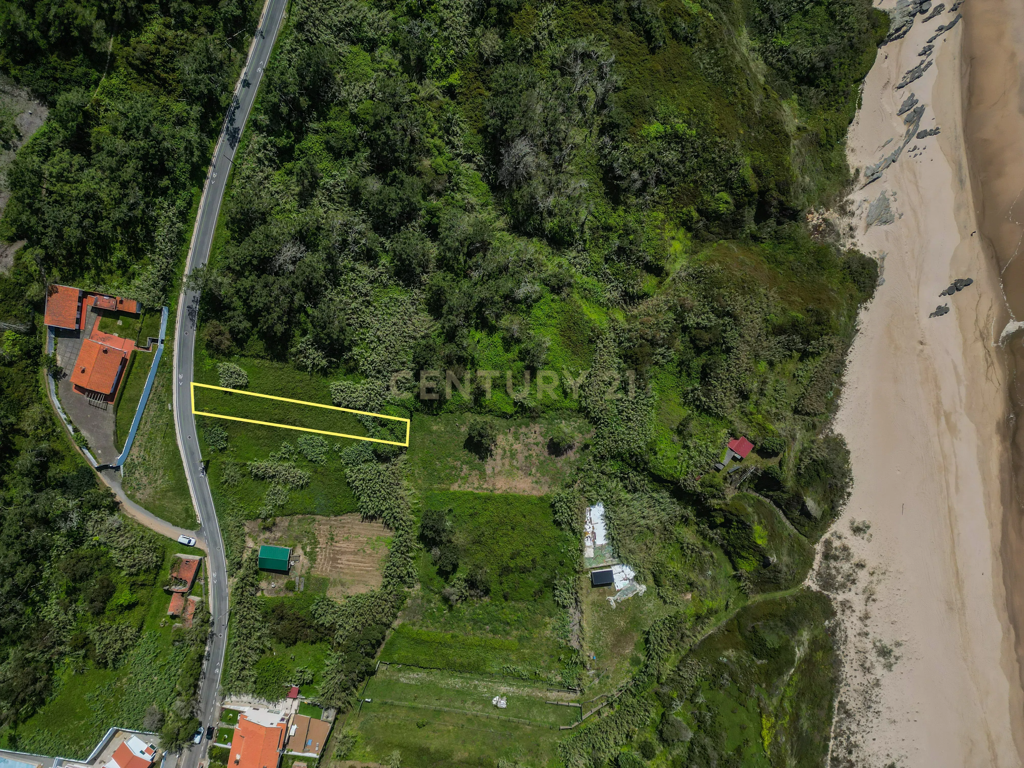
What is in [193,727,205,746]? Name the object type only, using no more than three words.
vehicle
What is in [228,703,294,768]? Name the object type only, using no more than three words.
house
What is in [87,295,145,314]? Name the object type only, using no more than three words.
building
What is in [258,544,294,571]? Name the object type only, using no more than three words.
shed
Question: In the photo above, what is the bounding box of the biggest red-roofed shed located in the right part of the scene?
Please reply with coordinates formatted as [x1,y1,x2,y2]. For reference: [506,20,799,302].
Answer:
[728,436,754,458]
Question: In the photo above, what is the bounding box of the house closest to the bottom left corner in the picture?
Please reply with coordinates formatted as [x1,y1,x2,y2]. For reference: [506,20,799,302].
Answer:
[103,733,161,768]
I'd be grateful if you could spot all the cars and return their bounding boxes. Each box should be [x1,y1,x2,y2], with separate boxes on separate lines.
[204,725,215,743]
[193,727,205,746]
[177,536,196,546]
